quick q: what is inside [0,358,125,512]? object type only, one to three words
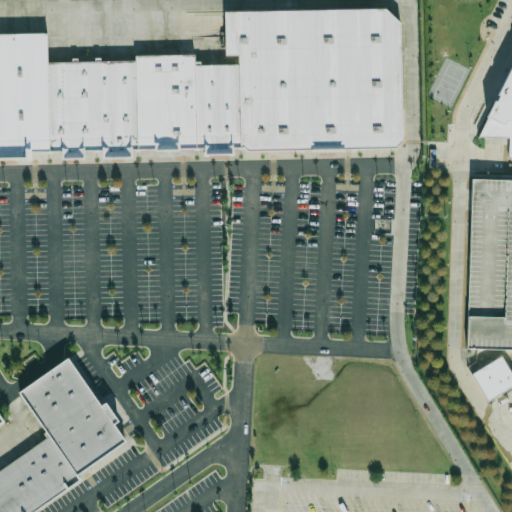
building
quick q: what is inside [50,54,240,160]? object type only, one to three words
building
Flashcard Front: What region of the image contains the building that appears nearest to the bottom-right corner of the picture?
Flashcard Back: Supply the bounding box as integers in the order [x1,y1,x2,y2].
[472,356,512,402]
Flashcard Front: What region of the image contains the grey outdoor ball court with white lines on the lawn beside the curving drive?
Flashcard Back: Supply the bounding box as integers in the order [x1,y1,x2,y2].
[430,58,470,107]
